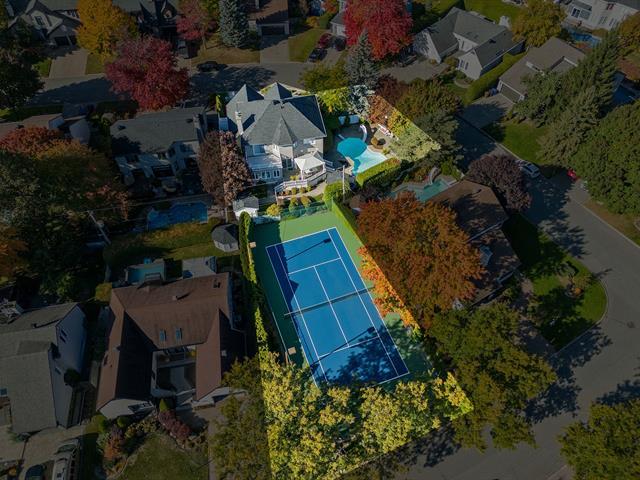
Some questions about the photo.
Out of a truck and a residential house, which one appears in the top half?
residential house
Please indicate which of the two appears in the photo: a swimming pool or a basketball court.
swimming pool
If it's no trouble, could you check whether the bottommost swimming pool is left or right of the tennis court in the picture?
on the left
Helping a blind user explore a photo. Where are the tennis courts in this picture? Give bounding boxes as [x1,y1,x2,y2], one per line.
[249,199,453,460]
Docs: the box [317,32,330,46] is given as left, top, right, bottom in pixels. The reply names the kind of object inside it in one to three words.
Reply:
vehicle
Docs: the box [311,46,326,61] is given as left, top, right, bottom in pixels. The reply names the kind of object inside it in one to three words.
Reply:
car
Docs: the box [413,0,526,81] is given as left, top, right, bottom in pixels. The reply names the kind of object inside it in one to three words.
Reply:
house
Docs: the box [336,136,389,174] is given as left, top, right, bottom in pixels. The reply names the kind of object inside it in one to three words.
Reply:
swimming pool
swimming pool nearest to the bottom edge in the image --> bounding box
[126,261,168,286]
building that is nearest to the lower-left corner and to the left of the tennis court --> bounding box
[0,304,92,436]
